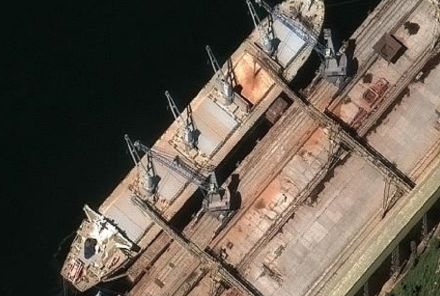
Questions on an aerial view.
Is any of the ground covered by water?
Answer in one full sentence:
Yes, there is water in the image.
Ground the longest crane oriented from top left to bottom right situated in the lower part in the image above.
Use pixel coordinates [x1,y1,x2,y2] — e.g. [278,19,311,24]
[135,141,235,239]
